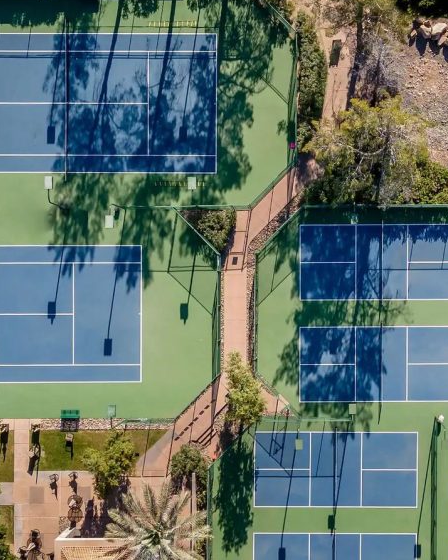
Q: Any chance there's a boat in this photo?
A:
No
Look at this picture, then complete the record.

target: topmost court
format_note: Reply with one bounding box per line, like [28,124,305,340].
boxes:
[0,33,217,174]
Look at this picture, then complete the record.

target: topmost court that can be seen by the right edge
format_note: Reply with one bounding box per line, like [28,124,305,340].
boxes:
[299,224,448,301]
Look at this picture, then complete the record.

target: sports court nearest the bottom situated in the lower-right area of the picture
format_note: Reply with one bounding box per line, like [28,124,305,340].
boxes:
[252,533,418,560]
